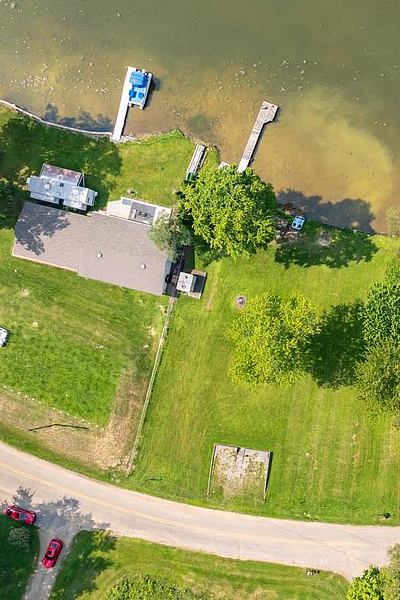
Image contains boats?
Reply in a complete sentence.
Yes, the picture does show a boat.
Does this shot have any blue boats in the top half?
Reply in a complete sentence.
Yes, a blue boat shows up in the top half.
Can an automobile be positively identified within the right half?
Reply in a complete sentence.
No, there is no automobile within the right half.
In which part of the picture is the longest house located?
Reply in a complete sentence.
The longest house appears toward the left of the photo.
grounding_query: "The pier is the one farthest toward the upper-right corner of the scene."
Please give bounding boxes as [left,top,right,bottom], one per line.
[242,100,279,158]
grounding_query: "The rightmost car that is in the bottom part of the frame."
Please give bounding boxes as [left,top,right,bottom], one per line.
[40,538,63,570]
